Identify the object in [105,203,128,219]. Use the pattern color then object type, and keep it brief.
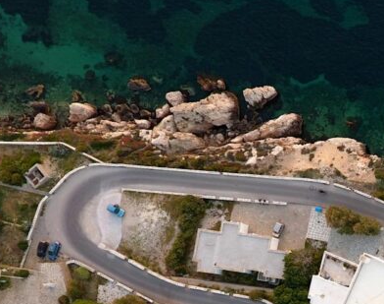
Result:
blue vehicle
